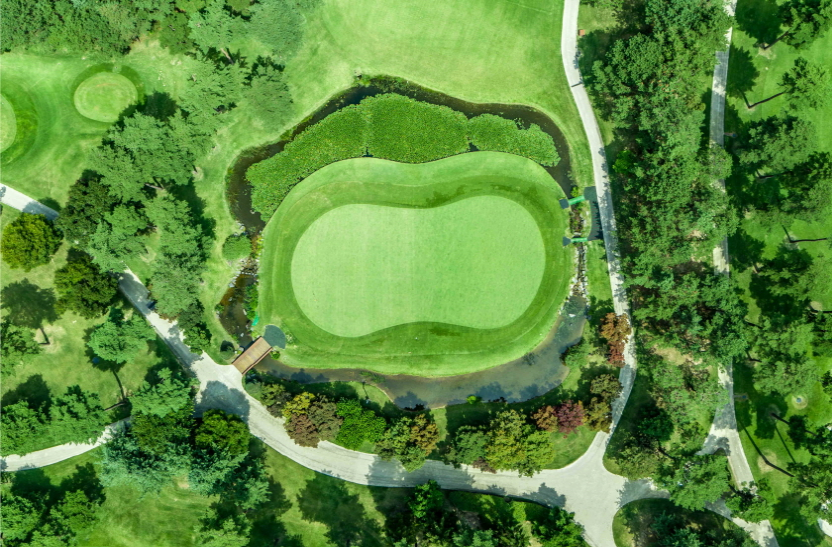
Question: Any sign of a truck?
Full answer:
No, there is no truck in the image.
